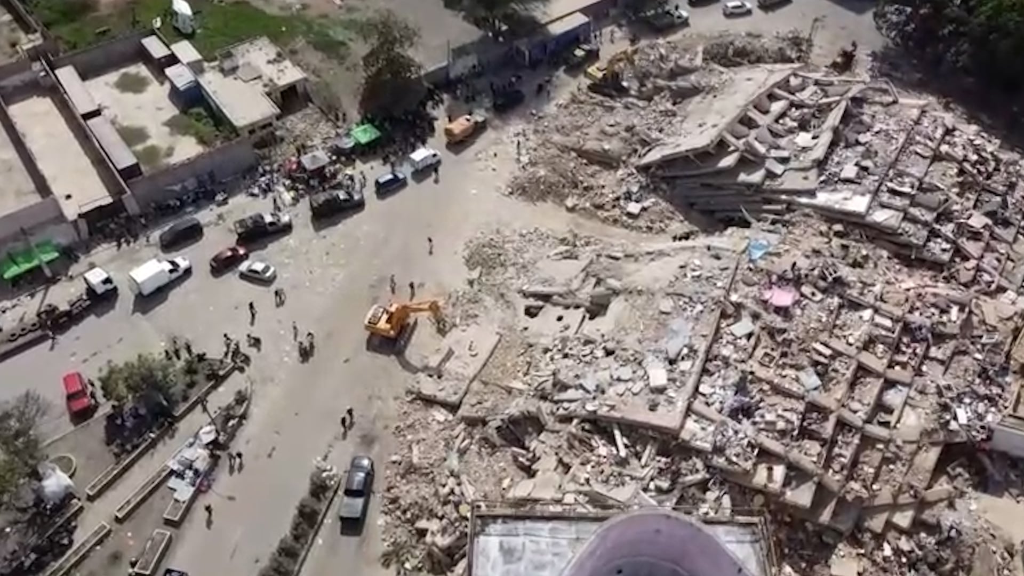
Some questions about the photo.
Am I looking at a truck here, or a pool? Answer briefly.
truck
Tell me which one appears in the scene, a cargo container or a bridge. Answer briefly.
cargo container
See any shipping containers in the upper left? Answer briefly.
Yes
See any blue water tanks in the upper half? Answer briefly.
No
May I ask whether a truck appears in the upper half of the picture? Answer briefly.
Yes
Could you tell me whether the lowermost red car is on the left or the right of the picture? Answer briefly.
left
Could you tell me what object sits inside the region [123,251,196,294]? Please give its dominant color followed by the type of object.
white truck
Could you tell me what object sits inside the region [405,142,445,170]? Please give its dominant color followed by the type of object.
white van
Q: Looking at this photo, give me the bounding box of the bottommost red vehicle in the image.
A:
[60,371,95,419]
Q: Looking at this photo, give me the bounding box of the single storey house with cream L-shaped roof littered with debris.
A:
[195,37,311,144]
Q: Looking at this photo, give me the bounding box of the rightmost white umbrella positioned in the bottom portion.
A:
[199,425,219,445]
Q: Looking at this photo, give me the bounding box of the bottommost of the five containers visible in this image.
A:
[87,116,147,184]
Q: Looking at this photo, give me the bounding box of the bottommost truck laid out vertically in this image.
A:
[342,458,372,520]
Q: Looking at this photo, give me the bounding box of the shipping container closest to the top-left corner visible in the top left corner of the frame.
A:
[55,65,103,127]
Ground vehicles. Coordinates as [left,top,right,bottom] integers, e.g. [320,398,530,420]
[405,142,445,170]
[207,246,252,273]
[305,184,368,220]
[362,314,445,353]
[157,221,208,253]
[230,209,294,246]
[720,1,754,17]
[60,371,95,419]
[0,276,119,355]
[642,8,691,36]
[342,458,372,520]
[562,37,604,68]
[123,251,196,294]
[236,262,280,284]
[584,46,633,101]
[372,172,411,195]
[441,105,491,144]
[146,562,204,576]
